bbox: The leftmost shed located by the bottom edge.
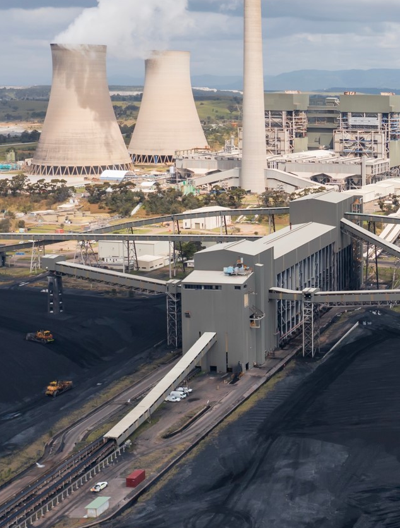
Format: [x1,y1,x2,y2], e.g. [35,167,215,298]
[82,498,113,517]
